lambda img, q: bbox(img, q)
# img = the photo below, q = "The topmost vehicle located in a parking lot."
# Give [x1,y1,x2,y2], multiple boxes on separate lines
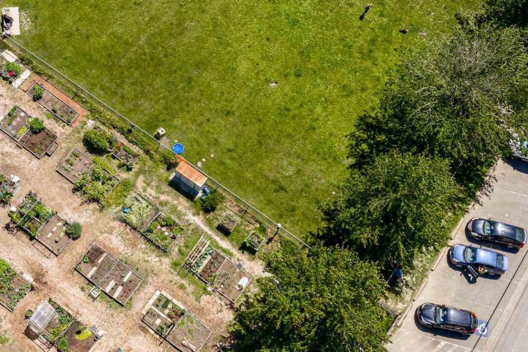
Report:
[465,216,527,250]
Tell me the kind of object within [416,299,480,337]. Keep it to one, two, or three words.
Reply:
car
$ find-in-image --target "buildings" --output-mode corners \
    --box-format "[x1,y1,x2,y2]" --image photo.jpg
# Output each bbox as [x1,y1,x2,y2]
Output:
[174,160,209,194]
[23,300,61,342]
